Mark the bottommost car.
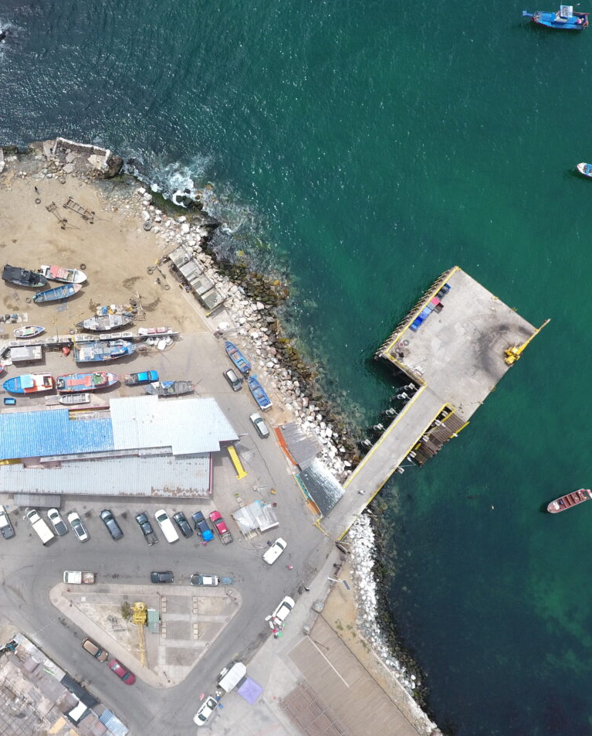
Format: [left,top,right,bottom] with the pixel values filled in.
[193,693,219,726]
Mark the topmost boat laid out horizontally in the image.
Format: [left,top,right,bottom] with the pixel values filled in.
[524,6,590,34]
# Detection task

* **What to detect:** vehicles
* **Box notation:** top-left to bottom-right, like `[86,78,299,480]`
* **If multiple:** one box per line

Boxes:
[124,370,159,386]
[222,367,243,393]
[136,511,160,547]
[268,595,297,631]
[262,534,287,566]
[209,509,235,546]
[67,511,89,542]
[151,570,174,583]
[250,411,271,439]
[217,658,251,698]
[154,508,181,544]
[193,693,219,726]
[173,509,195,539]
[101,508,125,542]
[191,509,215,544]
[24,508,54,547]
[0,504,15,540]
[108,657,137,685]
[47,507,70,538]
[80,635,110,663]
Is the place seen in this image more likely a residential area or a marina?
marina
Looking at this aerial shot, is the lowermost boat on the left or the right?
right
